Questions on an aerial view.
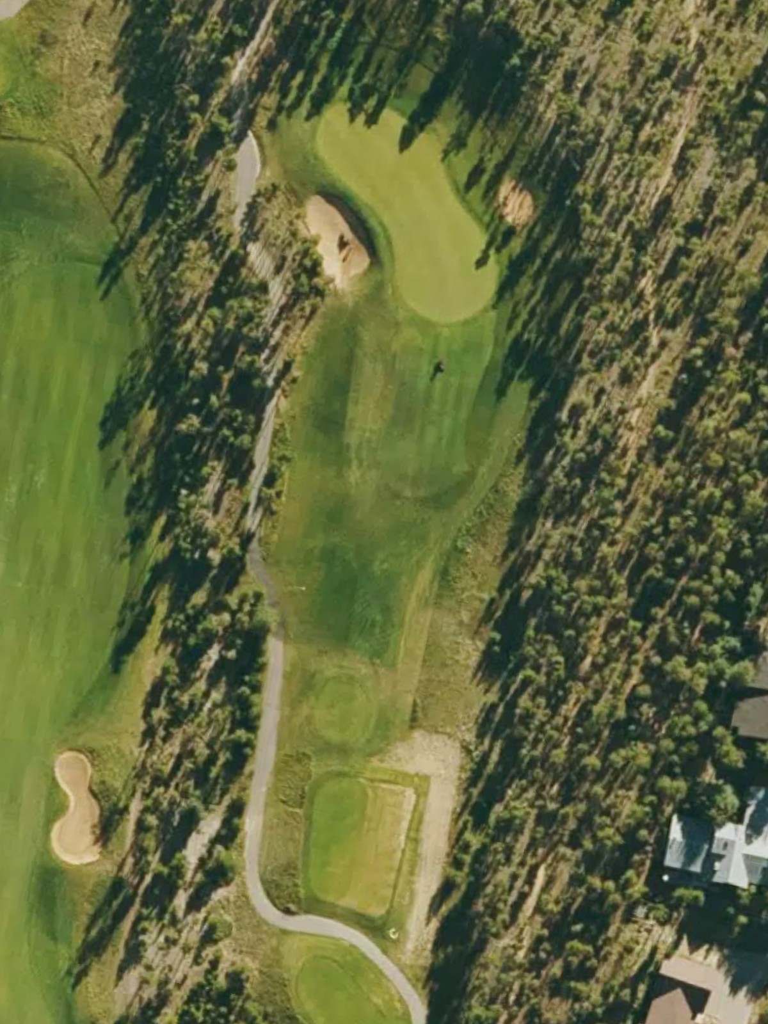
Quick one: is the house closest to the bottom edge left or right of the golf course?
on its right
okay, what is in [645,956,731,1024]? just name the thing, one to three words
house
